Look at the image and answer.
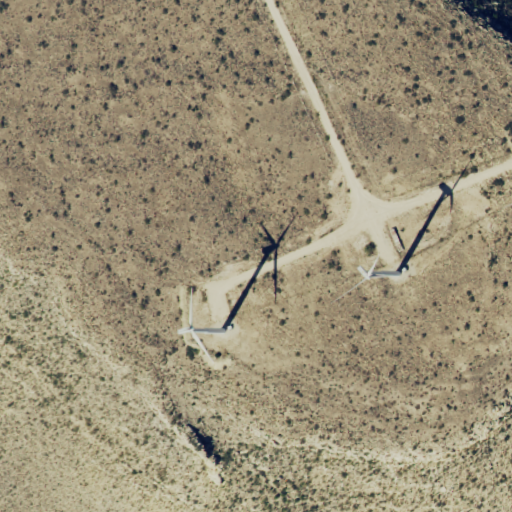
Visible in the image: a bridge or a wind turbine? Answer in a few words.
wind turbine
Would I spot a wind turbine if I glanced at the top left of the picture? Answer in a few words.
No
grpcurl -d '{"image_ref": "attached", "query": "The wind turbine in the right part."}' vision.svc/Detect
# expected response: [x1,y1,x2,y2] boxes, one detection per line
[336,246,405,308]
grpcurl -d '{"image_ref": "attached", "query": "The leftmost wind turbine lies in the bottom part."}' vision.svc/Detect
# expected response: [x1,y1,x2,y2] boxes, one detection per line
[170,294,230,364]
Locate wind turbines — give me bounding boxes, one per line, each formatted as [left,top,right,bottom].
[336,246,405,308]
[170,294,230,364]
